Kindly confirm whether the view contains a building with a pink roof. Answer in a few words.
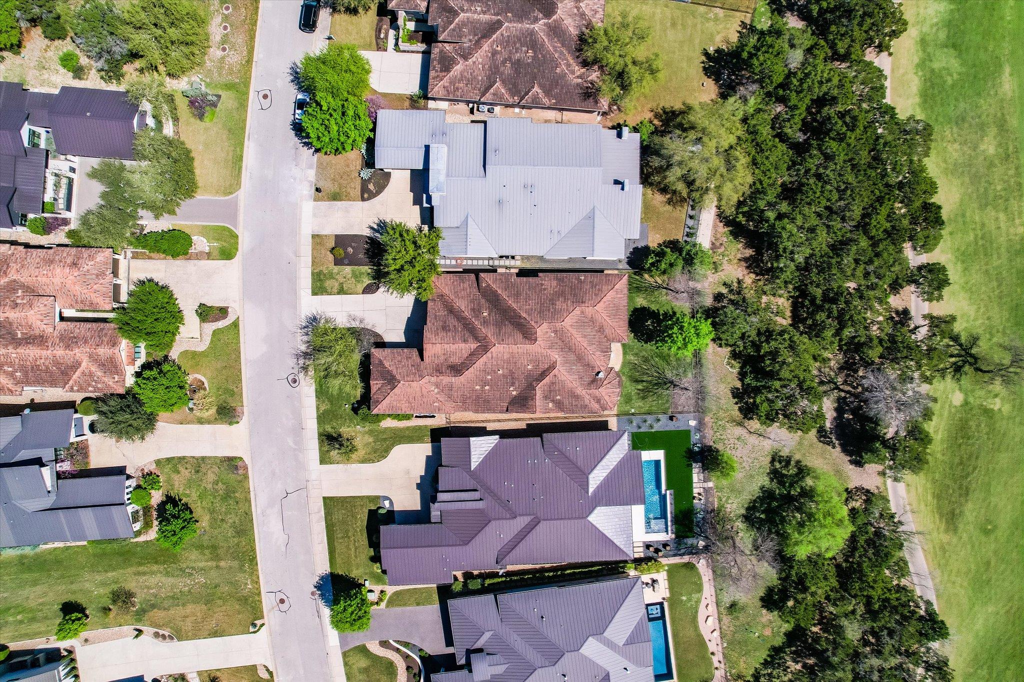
Yes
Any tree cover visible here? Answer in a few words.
Yes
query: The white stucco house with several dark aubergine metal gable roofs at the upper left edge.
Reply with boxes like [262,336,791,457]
[0,82,152,229]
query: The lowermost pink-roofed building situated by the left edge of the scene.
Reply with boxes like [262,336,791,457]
[0,243,146,396]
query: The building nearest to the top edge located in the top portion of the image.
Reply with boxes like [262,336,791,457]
[387,0,608,114]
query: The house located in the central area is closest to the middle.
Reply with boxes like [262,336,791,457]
[370,272,628,414]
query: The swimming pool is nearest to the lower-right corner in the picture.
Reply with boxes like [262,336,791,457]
[645,602,677,682]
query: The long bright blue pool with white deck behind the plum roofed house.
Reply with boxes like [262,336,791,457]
[633,451,676,541]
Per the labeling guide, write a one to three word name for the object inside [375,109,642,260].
house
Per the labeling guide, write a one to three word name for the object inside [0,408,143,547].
house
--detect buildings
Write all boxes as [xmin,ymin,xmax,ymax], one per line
[0,82,152,229]
[0,243,146,396]
[370,272,628,414]
[431,573,655,682]
[0,408,143,547]
[387,0,608,114]
[0,652,80,682]
[375,109,642,260]
[380,430,645,587]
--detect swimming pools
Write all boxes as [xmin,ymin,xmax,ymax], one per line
[633,451,676,541]
[645,602,677,682]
